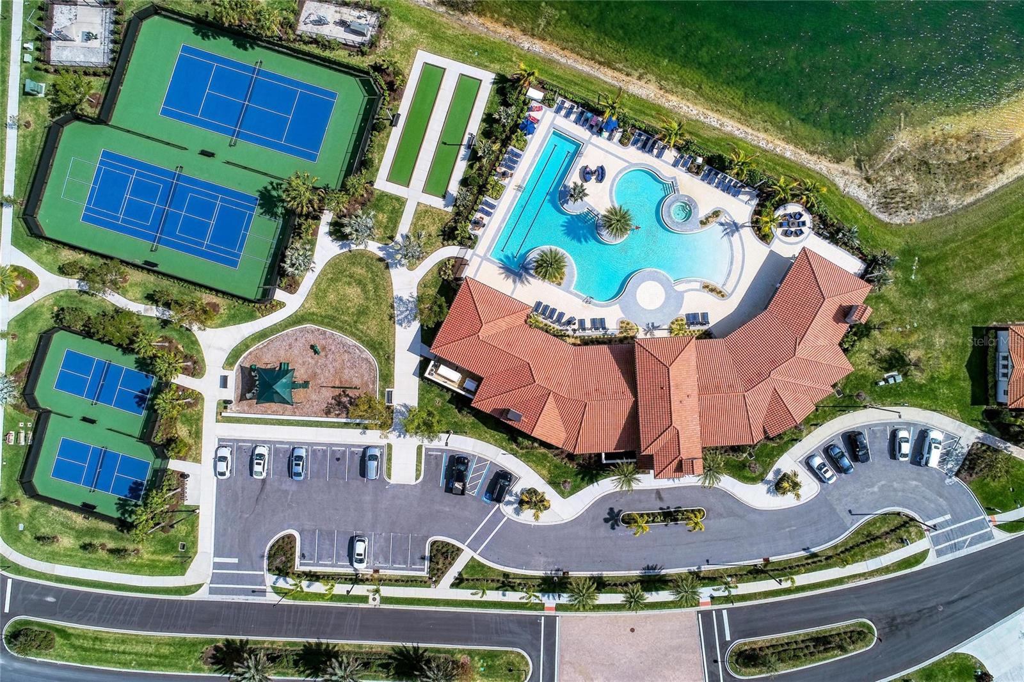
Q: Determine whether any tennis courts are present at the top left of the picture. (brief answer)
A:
Yes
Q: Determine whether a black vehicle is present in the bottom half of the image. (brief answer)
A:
Yes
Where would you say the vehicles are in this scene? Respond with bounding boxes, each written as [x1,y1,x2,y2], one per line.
[364,446,380,480]
[451,454,468,496]
[490,470,513,504]
[251,445,268,479]
[919,427,942,469]
[290,446,307,480]
[806,453,835,485]
[215,445,232,479]
[892,428,911,461]
[825,442,852,475]
[848,430,869,464]
[352,535,368,568]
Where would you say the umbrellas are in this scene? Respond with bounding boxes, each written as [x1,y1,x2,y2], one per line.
[519,120,536,137]
[602,117,618,133]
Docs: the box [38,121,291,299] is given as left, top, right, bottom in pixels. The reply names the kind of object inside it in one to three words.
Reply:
tennis court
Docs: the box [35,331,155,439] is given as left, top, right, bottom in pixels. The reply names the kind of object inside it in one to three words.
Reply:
sports court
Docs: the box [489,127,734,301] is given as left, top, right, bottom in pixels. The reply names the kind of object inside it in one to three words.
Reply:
swimming pool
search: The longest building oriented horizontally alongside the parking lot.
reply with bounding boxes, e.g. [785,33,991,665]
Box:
[430,246,874,479]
